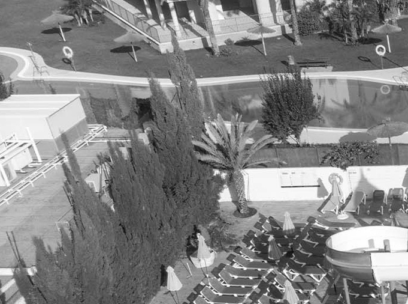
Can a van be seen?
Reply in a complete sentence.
No, there isn't any van down there.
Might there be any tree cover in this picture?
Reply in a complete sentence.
Yes, there is tree cover in the image.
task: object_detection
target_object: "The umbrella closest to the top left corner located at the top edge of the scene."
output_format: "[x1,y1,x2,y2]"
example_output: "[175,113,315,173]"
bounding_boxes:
[41,10,76,41]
